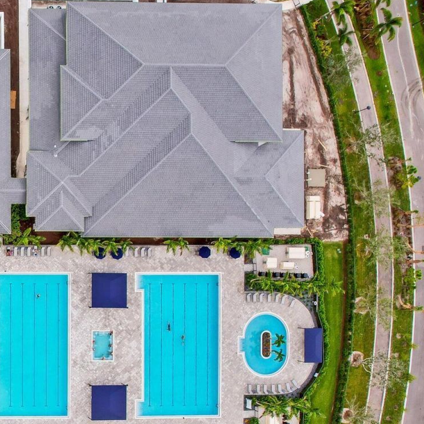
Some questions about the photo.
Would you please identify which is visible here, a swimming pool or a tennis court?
swimming pool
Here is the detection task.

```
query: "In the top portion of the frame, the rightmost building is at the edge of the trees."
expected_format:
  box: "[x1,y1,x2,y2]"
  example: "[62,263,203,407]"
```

[27,1,304,236]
